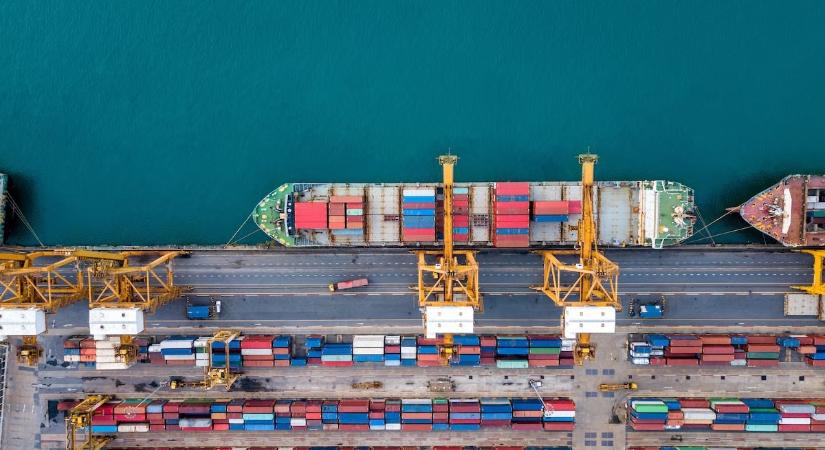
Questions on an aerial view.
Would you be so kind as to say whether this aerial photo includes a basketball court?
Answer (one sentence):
No, the picture doesn't show any basketball court.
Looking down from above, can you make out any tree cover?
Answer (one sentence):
No, tree cover can't be seen anywhere here.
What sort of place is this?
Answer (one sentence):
It's a port.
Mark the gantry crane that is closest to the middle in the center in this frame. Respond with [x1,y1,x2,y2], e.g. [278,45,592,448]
[407,155,487,365]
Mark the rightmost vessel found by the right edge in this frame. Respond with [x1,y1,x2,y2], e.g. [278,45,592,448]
[723,175,825,247]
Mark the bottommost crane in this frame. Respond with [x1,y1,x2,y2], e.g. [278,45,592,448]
[66,394,120,450]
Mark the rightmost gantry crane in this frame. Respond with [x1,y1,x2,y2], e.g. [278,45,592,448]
[795,251,825,297]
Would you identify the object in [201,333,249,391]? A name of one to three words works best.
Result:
container crane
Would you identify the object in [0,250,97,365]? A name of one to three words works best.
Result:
container crane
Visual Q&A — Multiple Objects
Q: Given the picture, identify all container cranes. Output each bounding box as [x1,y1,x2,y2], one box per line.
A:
[41,248,189,365]
[795,251,825,297]
[201,333,249,391]
[66,394,120,450]
[532,147,624,365]
[407,155,487,365]
[0,250,97,365]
